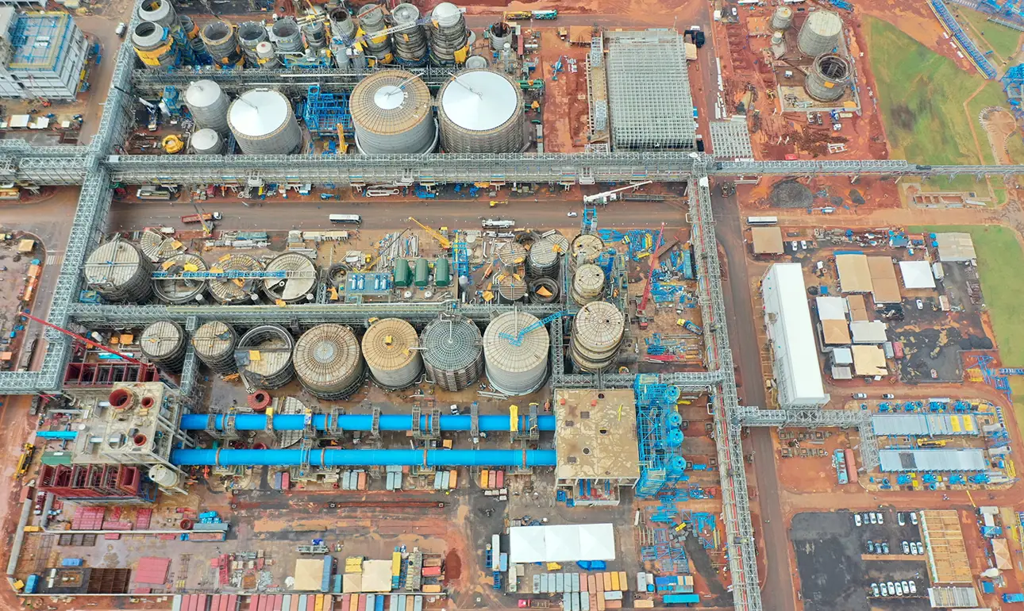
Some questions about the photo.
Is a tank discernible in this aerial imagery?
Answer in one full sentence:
Yes, a tank is visible in the scene.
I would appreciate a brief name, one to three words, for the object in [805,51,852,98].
storage tank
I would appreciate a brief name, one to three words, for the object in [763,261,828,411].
building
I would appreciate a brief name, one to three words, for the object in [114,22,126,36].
vehicle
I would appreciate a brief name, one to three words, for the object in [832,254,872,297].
building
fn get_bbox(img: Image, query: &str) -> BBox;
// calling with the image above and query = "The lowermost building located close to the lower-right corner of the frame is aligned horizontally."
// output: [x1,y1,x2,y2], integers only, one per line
[924,588,977,609]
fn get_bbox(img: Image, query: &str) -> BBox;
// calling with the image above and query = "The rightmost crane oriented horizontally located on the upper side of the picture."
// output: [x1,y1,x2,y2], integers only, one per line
[582,182,652,206]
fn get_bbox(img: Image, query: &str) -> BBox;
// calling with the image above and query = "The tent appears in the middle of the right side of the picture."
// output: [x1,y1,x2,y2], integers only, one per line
[895,262,935,292]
